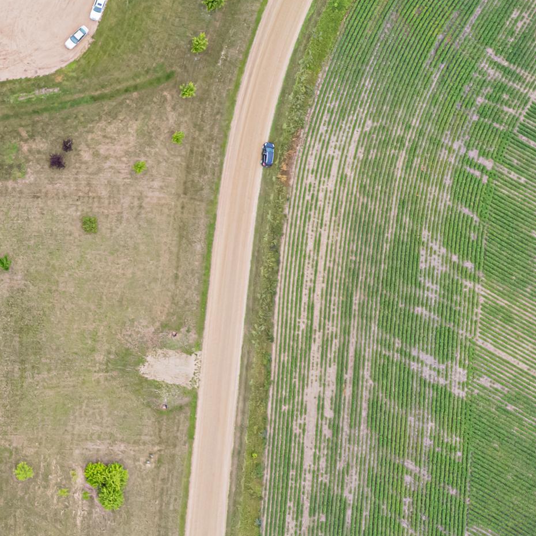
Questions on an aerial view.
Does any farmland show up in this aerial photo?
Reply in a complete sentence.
Yes, farmland can be seen from above here.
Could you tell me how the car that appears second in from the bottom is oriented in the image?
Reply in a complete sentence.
Seen from above, the car that appears second in from the bottom lies diagonally.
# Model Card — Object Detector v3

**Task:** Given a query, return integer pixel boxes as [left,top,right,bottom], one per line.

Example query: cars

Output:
[65,24,90,50]
[261,142,275,167]
[90,0,105,21]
